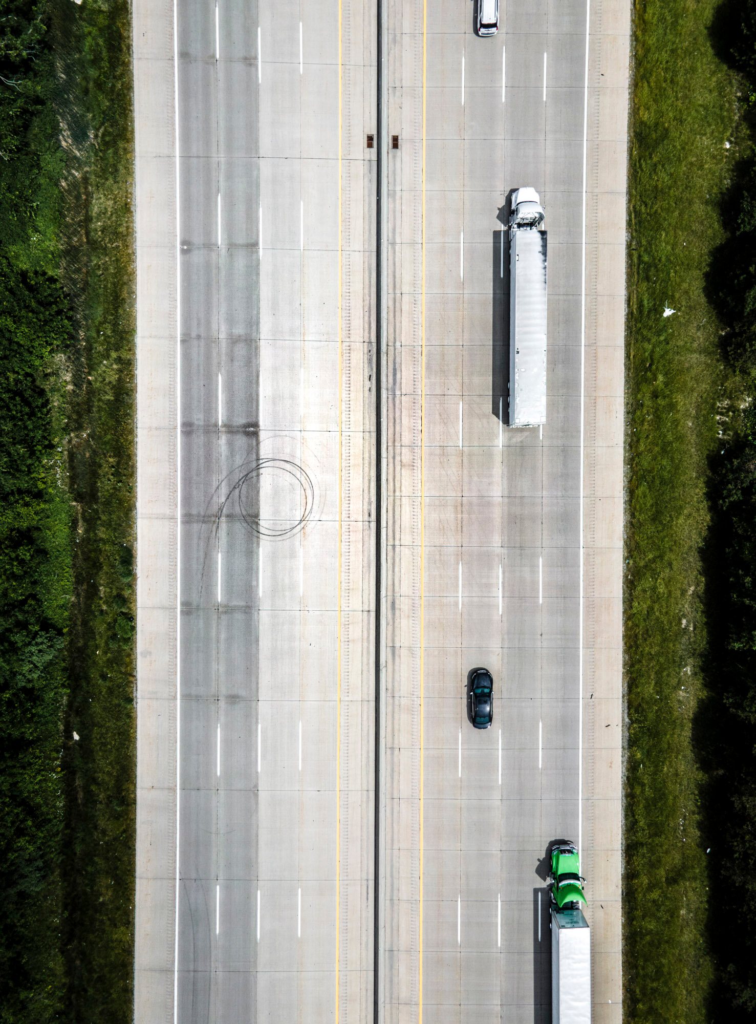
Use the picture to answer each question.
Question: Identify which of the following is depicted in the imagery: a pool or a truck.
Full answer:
Visible in the photo is a truck.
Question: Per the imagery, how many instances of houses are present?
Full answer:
Not a single house can be seen.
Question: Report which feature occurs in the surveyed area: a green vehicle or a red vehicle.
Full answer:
The one in the frame is a green vehicle.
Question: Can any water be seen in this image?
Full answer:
No, water can't be seen anywhere here.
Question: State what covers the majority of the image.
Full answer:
For the most part, this view shows paved ground.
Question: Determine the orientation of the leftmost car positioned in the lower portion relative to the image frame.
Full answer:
I'd say the leftmost car positioned in the lower portion is aligned up and down in the picture.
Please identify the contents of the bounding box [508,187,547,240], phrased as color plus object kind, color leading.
white truck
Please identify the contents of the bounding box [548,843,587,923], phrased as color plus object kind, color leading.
green truck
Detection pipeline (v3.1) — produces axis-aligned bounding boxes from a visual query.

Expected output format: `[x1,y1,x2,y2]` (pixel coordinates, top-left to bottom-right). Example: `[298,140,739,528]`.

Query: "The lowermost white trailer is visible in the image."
[550,908,590,1024]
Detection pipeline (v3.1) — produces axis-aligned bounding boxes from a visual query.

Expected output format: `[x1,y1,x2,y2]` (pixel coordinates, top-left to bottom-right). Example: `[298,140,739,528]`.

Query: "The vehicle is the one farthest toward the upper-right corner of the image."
[476,0,499,37]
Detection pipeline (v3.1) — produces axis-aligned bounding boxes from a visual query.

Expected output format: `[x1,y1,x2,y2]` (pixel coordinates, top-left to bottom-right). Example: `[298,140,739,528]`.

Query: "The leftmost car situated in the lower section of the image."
[470,670,496,728]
